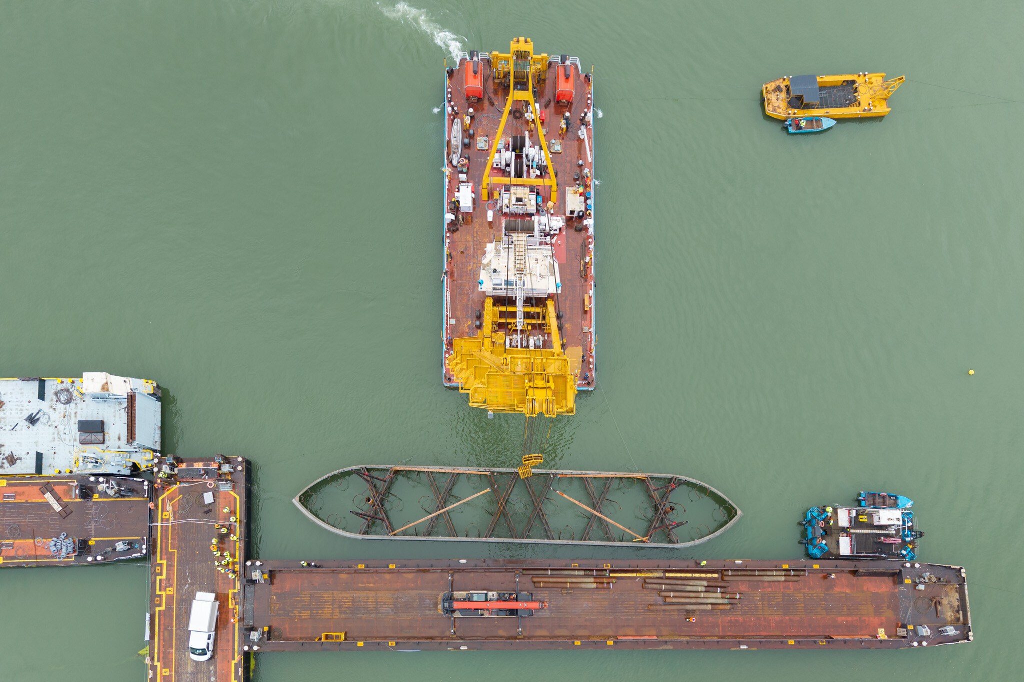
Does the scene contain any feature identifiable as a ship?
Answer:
Yes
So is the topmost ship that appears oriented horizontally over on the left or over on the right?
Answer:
right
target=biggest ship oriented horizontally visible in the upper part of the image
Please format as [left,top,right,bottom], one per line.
[761,72,906,121]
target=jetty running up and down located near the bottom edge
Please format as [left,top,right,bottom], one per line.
[148,452,250,682]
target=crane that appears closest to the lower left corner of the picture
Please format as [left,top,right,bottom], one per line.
[442,572,547,638]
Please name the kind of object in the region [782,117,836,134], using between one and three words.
boat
